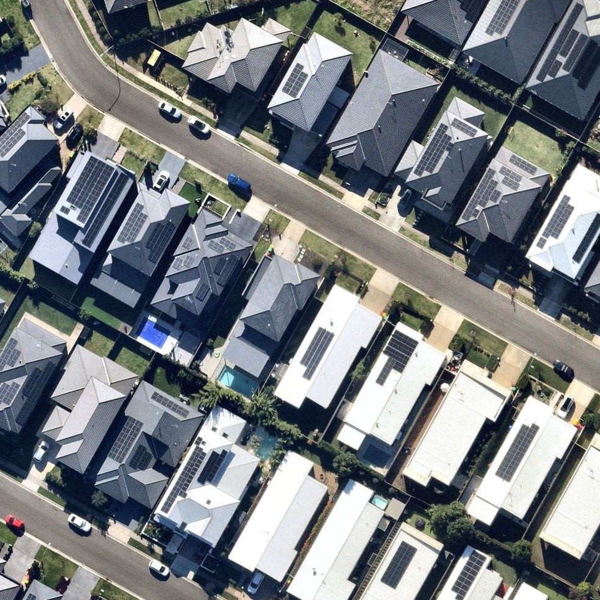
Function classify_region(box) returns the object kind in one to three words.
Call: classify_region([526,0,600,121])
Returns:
house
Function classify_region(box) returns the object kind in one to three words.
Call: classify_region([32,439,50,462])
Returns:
car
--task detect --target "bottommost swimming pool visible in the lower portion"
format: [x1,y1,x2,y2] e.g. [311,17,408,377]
[370,494,390,510]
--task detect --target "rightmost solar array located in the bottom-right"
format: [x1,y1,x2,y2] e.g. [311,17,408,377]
[498,425,539,482]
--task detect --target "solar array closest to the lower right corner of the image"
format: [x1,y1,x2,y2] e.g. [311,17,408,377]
[447,550,488,600]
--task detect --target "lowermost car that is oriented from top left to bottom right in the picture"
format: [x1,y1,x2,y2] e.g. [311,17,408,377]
[146,557,171,577]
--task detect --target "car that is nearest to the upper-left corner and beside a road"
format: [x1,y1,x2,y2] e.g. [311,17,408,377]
[17,0,32,18]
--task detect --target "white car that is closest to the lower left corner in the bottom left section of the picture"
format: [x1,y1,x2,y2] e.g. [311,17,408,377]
[66,513,92,533]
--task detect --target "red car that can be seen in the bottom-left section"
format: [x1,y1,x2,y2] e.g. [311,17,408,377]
[3,514,27,532]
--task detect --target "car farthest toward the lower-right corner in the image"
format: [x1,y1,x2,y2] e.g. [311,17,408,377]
[557,393,575,420]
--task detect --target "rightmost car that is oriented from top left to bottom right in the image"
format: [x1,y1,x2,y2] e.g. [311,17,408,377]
[551,360,576,380]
